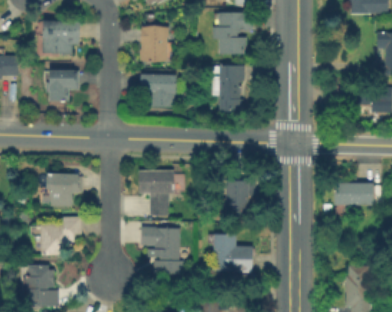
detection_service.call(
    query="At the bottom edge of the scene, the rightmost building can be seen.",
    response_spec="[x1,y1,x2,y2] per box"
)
[345,267,370,312]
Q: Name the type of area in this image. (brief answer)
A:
residential area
